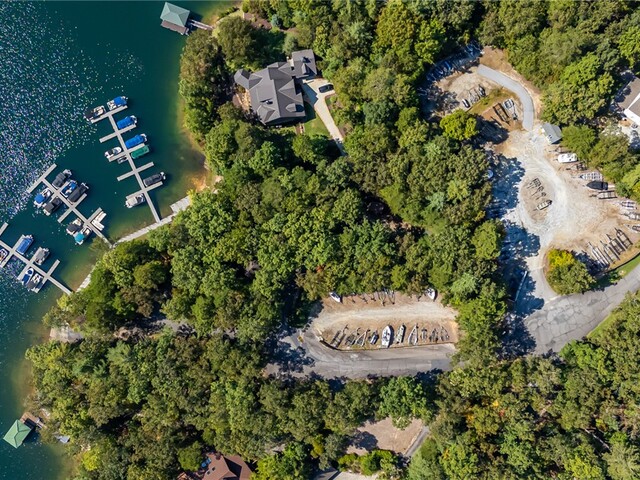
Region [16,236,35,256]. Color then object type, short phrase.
blue boat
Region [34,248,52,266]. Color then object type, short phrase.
gray boat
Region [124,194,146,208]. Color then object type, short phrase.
white boat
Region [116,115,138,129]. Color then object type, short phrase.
blue boat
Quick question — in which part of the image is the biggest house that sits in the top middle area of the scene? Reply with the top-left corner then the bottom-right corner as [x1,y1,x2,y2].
[232,54,318,131]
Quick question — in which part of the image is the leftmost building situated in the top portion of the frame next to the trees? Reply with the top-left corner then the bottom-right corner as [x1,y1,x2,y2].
[160,1,211,35]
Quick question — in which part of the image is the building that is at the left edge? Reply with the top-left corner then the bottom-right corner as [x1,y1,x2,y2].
[3,411,44,448]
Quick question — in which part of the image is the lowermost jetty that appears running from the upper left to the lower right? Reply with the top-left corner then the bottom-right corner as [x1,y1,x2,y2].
[0,222,73,297]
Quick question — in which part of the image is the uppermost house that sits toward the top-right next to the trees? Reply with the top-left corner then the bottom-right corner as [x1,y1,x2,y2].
[611,78,640,124]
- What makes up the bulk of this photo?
trees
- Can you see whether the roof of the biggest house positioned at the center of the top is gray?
Yes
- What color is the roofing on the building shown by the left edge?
green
